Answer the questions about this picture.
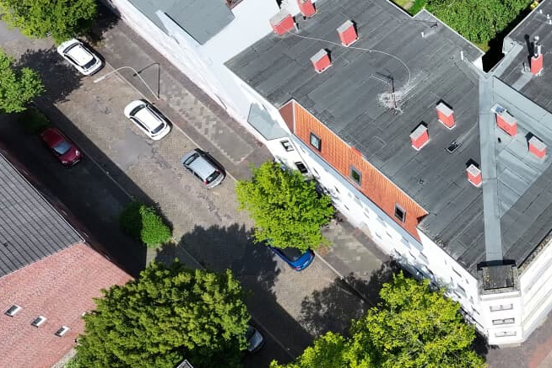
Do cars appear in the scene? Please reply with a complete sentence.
Yes, the frame does contain a car.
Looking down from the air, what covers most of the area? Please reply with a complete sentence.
The scene is dominated by buildings.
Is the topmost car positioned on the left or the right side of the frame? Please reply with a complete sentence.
The topmost car appears in the left half of the scene.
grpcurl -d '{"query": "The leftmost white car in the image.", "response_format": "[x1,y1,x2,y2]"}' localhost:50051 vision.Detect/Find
[61,43,103,80]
